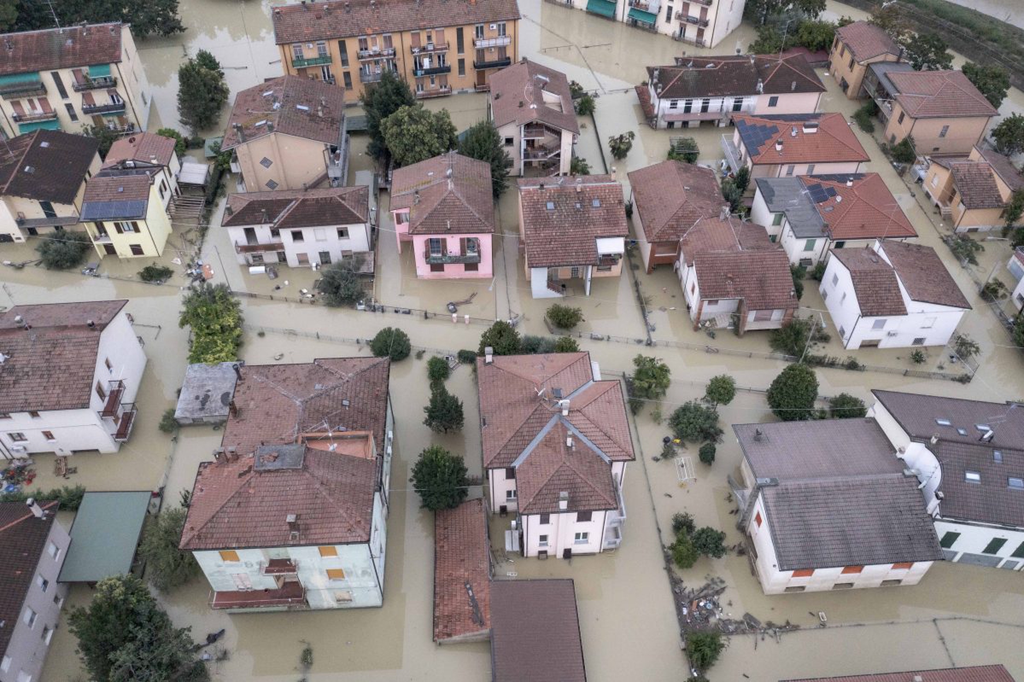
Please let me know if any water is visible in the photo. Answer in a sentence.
Yes, there is water in the image.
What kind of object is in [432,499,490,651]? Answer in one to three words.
shed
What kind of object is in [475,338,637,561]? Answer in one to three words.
house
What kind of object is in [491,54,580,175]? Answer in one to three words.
house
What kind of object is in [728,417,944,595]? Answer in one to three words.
barn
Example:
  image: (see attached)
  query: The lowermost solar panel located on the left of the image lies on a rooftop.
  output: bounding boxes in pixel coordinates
[81,200,145,218]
